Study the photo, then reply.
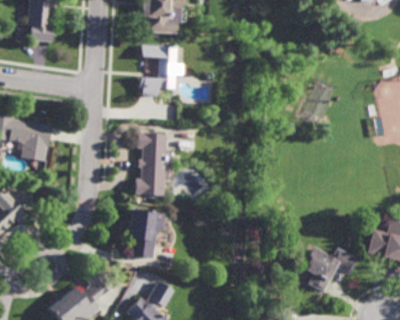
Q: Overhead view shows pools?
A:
Yes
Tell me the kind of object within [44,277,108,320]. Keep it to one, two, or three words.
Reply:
house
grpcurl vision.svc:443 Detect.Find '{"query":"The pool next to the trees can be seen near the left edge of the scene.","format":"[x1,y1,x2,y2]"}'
[3,155,30,172]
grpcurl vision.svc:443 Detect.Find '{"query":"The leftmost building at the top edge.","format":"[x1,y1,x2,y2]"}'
[30,0,56,42]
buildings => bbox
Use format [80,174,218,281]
[132,278,176,320]
[44,277,108,320]
[368,218,400,261]
[134,134,170,196]
[0,112,53,164]
[127,210,168,260]
[307,244,358,296]
[144,0,190,34]
[0,196,26,238]
[142,43,186,96]
[30,0,56,42]
[179,140,195,153]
